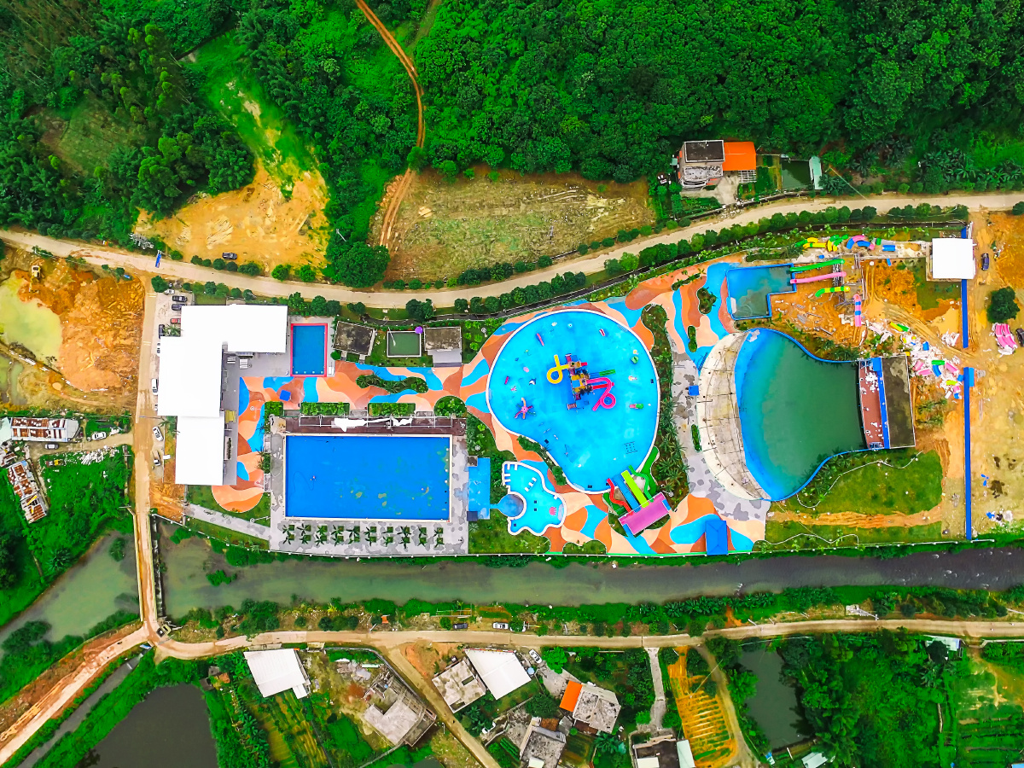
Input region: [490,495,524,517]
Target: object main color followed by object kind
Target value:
blue swimming pool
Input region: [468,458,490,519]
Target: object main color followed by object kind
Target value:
blue swimming pool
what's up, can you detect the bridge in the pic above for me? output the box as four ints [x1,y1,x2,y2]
[127,507,159,621]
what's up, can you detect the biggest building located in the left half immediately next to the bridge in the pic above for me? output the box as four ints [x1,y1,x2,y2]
[158,305,292,486]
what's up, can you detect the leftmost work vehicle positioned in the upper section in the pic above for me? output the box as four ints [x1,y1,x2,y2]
[22,262,41,296]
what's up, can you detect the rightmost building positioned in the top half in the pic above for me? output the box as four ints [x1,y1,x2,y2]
[926,238,975,281]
